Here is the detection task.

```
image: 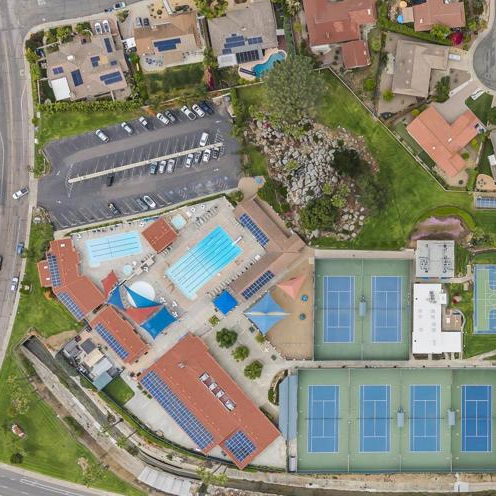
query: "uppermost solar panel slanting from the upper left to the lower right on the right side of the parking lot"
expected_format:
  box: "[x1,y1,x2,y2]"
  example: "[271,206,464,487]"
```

[240,214,268,245]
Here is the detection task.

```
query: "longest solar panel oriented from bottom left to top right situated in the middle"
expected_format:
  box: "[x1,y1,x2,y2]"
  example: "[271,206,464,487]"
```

[242,271,273,299]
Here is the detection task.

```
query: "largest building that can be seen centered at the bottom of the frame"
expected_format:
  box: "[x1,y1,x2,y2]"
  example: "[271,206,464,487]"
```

[137,333,281,471]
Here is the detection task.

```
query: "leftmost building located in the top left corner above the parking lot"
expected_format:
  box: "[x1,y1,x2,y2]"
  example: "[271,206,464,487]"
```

[46,31,132,98]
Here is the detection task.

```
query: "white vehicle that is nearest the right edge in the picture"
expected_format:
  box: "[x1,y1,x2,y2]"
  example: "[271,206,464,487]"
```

[470,88,485,100]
